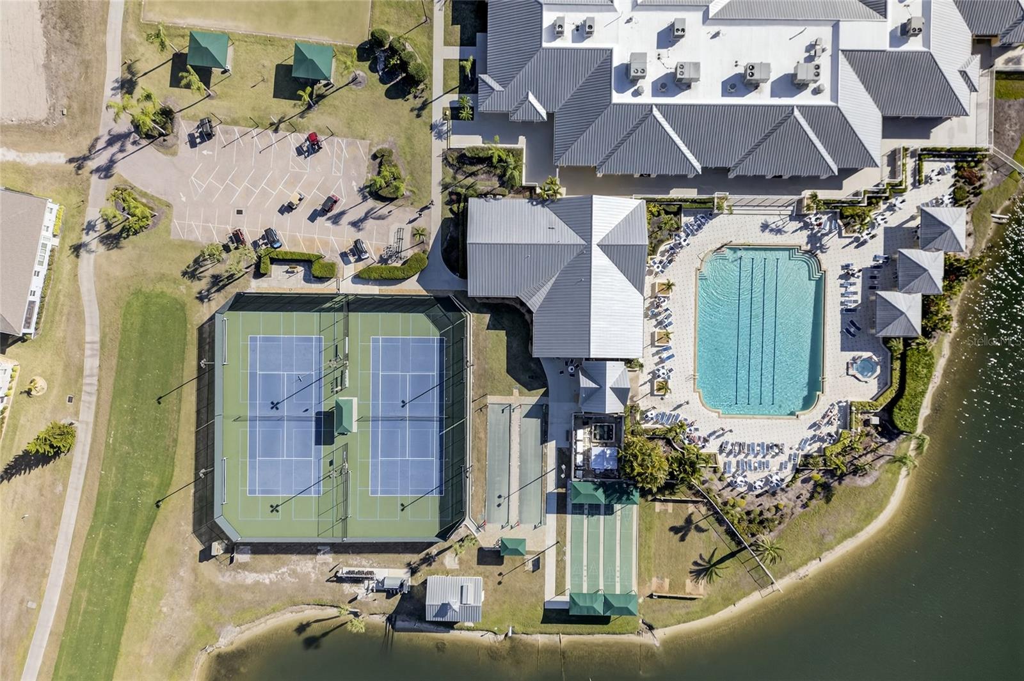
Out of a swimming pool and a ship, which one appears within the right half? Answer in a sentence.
It is a swimming pool that can be seen within the right half.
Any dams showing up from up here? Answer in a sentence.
No, the scene contains no dam.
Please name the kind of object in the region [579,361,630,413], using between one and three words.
building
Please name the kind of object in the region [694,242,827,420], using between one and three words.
swimming pool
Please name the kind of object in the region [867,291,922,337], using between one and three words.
building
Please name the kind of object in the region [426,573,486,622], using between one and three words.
shed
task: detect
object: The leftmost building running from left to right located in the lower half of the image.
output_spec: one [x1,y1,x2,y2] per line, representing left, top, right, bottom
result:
[340,568,410,593]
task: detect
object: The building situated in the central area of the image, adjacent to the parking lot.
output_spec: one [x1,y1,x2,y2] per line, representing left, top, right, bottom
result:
[468,195,648,358]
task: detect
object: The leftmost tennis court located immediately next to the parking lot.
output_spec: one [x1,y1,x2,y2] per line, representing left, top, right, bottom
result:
[223,294,348,537]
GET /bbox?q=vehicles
[196,119,213,137]
[351,236,367,256]
[261,226,279,246]
[228,228,244,245]
[286,191,303,208]
[319,194,337,210]
[305,133,320,150]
